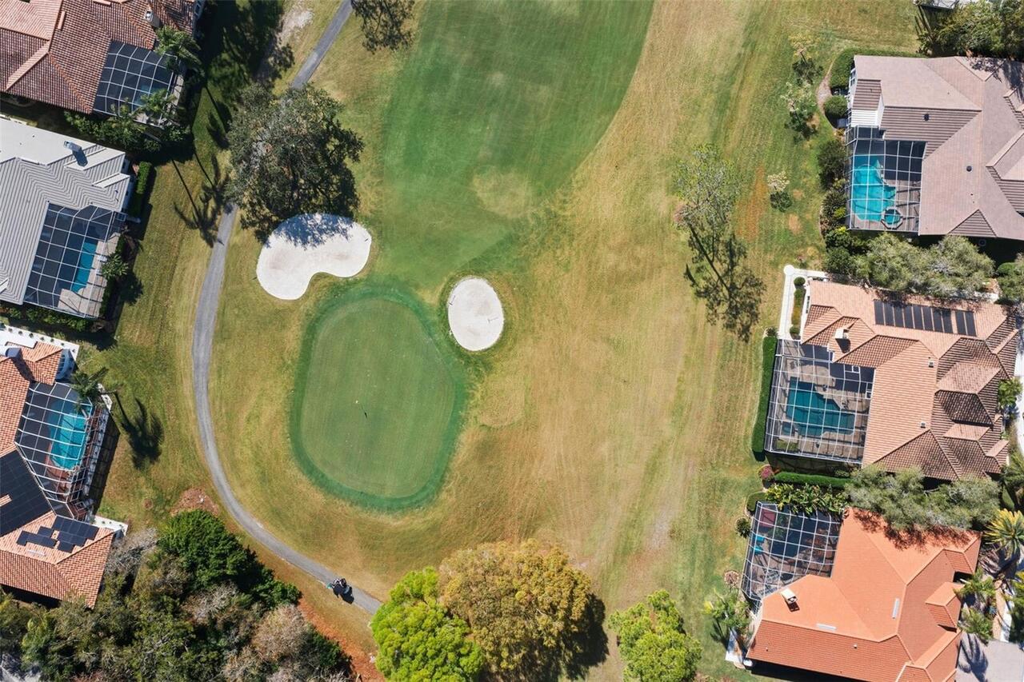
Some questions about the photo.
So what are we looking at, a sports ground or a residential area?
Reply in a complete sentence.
The area seen from above is a residential area.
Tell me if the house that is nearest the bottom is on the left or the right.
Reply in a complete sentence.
The house that is nearest the bottom sits on the right side.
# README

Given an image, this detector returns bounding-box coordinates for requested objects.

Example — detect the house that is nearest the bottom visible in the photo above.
[742,508,981,682]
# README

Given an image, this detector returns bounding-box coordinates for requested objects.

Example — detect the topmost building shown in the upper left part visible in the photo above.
[0,0,214,115]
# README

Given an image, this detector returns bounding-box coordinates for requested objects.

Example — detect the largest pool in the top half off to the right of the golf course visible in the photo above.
[851,153,900,224]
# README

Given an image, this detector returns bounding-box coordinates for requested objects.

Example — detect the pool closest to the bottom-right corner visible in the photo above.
[771,511,819,558]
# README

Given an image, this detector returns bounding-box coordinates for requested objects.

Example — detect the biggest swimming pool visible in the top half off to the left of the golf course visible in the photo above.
[52,234,101,293]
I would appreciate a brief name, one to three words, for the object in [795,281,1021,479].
house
